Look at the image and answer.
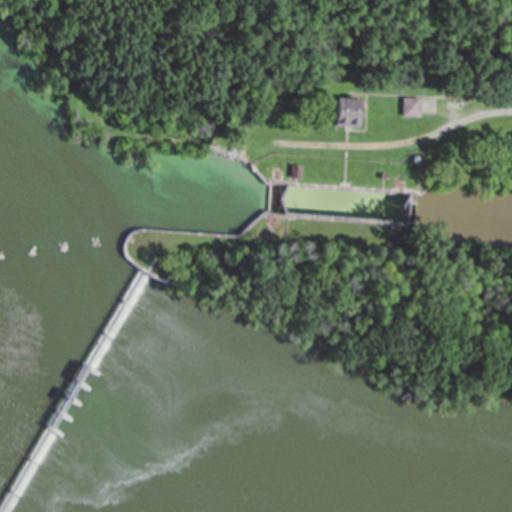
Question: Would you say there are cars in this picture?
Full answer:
No, the frame has no car in it.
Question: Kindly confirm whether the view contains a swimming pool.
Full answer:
No, there is no swimming pool in the image.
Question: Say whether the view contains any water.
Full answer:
Yes, the picture does contain water.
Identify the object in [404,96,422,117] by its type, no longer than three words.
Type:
building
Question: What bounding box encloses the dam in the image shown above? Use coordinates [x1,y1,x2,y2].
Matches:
[0,266,153,512]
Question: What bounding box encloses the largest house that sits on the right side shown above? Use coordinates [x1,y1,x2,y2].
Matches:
[340,97,366,130]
